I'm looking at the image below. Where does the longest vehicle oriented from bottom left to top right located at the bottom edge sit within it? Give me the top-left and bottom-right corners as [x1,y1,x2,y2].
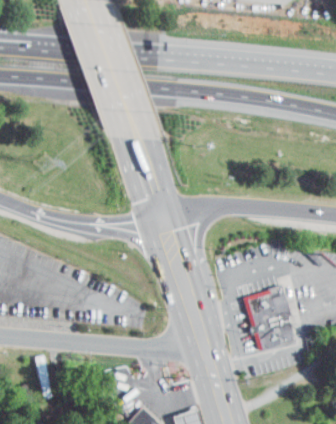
[121,388,142,404]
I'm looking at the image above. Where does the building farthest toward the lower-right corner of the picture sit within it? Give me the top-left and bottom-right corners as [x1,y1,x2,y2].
[243,286,296,350]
